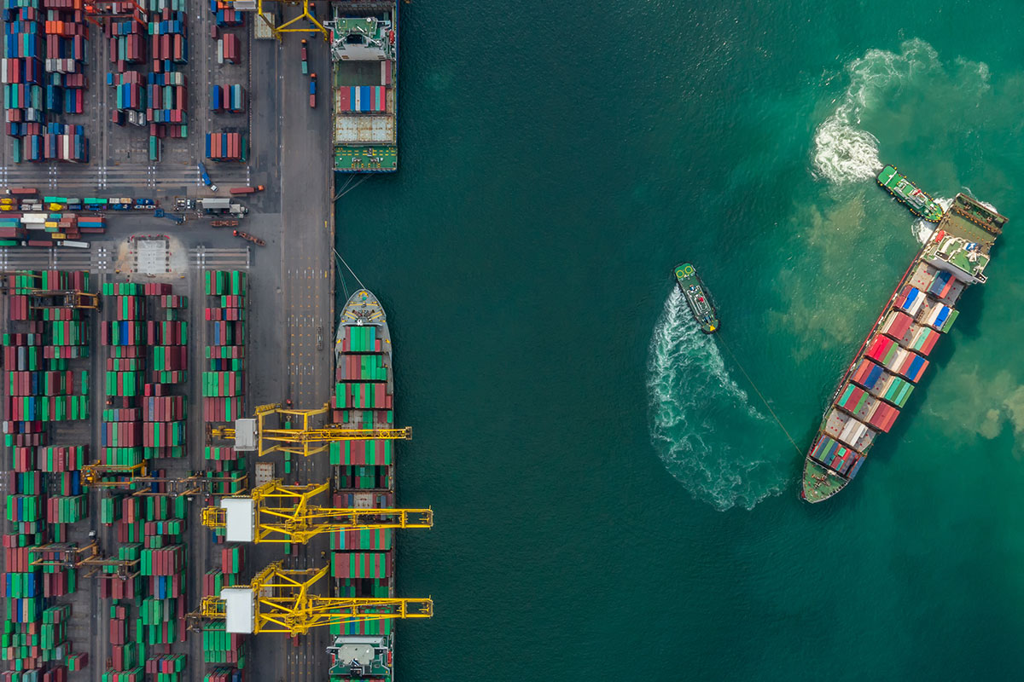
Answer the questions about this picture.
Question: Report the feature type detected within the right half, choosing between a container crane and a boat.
boat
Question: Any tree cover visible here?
No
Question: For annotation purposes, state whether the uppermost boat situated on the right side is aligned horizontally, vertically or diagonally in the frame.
diagonally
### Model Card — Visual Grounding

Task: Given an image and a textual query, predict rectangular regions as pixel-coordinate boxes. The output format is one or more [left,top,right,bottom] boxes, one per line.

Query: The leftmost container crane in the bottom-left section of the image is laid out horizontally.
[32,538,101,567]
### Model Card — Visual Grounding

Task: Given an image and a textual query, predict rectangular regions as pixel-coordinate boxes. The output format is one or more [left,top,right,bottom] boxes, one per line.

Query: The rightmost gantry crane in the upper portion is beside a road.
[223,0,330,48]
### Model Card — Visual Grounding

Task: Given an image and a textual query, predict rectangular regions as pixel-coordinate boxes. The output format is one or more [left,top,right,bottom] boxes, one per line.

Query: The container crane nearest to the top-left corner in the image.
[84,0,150,33]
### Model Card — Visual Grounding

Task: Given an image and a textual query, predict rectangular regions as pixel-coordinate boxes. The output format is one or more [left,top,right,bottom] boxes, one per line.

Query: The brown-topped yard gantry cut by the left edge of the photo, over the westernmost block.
[0,270,42,294]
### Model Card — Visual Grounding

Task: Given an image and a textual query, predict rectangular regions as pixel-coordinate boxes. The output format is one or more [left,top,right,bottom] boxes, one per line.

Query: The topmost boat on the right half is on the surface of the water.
[876,166,942,223]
